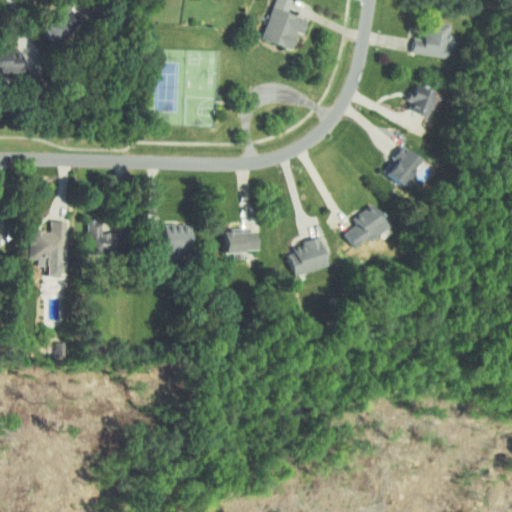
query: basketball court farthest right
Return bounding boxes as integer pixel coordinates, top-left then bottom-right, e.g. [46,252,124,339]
[184,50,220,128]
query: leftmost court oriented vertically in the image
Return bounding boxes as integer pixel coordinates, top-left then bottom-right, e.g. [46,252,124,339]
[146,50,184,127]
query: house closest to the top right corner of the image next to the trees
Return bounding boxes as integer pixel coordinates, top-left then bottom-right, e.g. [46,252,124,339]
[410,22,457,60]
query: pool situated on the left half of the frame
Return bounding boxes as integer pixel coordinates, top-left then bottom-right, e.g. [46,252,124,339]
[42,276,62,326]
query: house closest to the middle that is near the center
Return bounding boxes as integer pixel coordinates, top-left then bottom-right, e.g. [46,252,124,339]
[226,229,260,260]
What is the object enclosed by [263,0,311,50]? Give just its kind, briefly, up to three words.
house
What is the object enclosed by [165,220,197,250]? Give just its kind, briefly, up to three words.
house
